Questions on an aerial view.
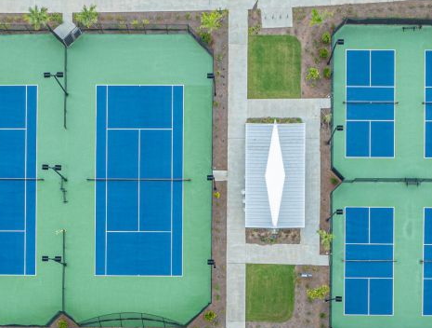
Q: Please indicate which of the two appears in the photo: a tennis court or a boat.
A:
tennis court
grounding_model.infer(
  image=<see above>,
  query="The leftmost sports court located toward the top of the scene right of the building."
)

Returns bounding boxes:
[332,24,410,178]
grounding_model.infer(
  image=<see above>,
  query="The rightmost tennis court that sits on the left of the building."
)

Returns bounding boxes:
[63,34,213,326]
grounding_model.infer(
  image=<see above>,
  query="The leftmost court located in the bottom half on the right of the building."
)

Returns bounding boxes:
[331,180,410,328]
